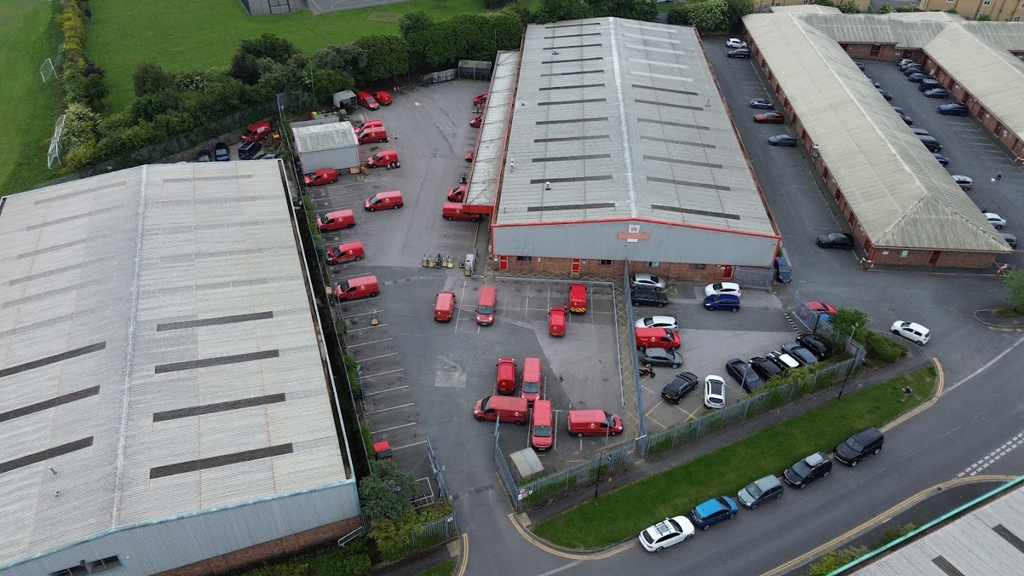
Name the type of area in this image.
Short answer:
industrial area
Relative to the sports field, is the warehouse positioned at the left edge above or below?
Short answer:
below it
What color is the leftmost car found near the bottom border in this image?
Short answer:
white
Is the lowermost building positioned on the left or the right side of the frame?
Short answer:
right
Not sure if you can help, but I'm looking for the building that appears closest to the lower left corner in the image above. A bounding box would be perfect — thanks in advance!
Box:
[0,157,365,576]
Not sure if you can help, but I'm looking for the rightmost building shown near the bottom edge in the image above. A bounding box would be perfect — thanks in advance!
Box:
[824,475,1024,576]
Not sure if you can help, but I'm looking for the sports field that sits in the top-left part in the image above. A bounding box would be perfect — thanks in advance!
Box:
[0,0,86,193]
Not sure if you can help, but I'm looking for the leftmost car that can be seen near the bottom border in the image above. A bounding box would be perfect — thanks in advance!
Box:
[638,518,695,554]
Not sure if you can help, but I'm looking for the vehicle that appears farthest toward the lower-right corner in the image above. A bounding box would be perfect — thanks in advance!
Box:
[833,426,887,465]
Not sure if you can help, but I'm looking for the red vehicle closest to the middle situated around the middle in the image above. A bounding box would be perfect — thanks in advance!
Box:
[476,284,496,322]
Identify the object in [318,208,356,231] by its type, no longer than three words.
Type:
vehicle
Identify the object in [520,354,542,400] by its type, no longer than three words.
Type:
vehicle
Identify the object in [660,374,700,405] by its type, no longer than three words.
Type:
car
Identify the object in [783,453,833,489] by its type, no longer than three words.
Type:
car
